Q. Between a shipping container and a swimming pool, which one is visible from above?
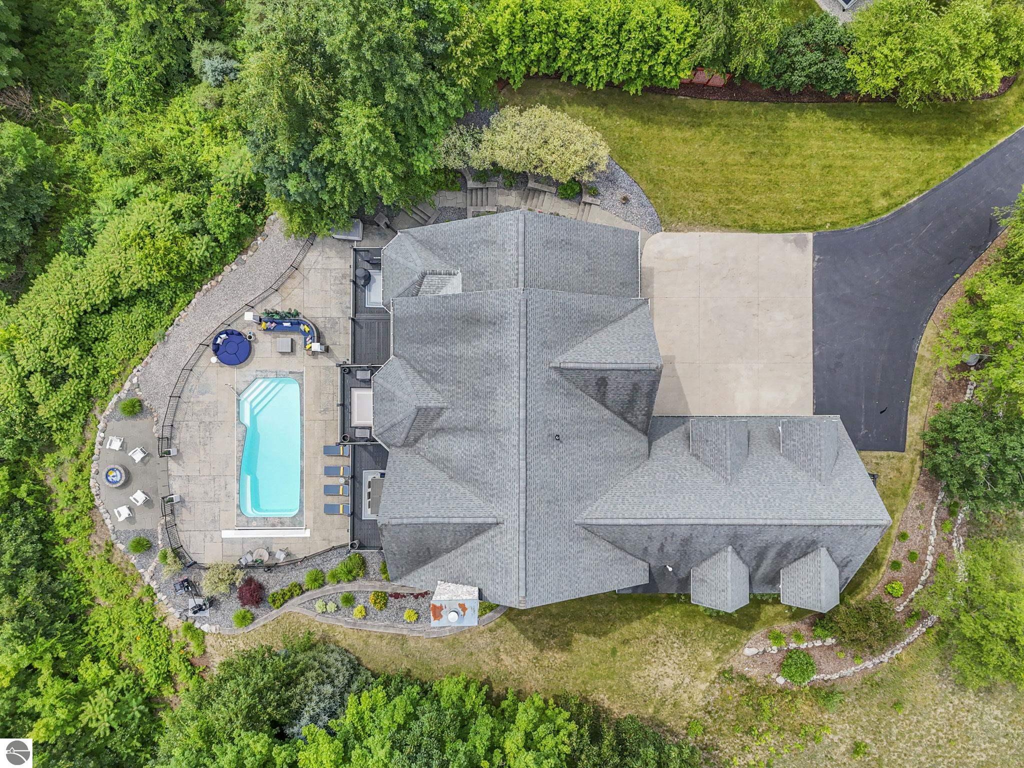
swimming pool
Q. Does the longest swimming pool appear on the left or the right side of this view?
left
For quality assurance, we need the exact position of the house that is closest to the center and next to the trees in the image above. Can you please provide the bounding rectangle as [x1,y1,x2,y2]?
[370,209,892,627]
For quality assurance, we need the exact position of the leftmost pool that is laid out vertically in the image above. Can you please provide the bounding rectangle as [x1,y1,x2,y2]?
[237,372,303,526]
